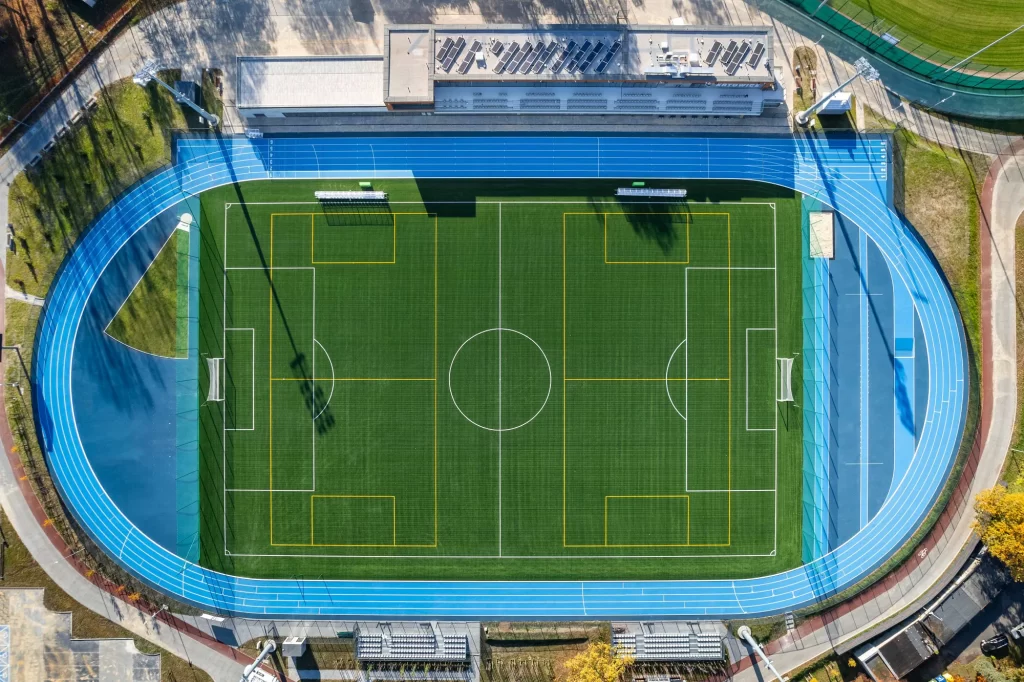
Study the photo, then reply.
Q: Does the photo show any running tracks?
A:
Yes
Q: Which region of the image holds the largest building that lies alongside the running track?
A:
top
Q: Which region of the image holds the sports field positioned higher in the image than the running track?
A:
top right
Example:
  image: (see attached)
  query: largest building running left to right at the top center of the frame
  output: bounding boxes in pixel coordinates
[237,25,786,122]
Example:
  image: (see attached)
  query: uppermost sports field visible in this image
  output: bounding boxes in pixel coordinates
[801,0,1024,91]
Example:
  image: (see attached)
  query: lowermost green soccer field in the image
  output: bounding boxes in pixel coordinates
[200,178,803,582]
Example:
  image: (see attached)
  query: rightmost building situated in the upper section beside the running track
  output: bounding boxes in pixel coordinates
[813,93,851,114]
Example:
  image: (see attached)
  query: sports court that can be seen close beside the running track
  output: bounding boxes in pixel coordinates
[0,587,162,682]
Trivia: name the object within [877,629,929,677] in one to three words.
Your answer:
building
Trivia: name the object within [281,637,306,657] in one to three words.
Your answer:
building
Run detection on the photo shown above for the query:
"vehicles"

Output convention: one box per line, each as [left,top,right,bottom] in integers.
[978,634,1008,651]
[1009,618,1024,637]
[243,668,277,682]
